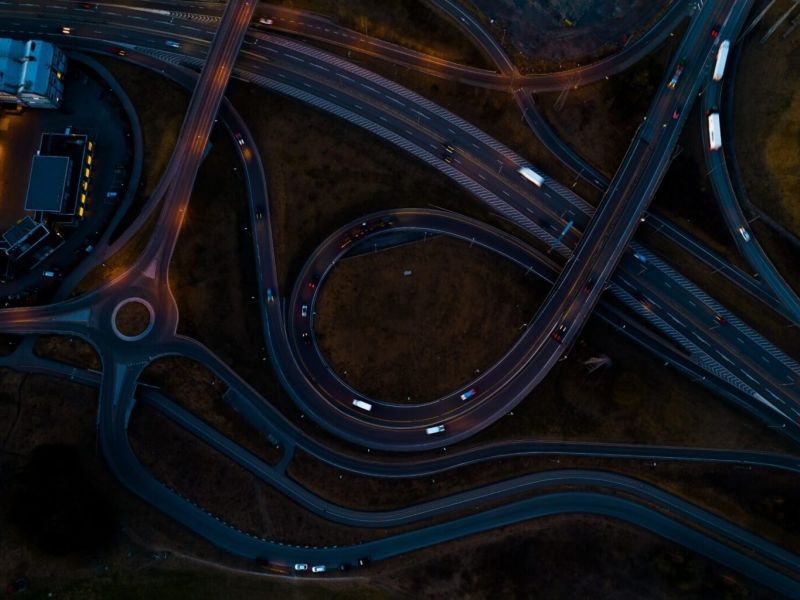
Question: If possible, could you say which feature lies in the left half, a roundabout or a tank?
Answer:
roundabout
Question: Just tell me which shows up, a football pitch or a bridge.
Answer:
bridge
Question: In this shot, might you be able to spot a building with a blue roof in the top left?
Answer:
Yes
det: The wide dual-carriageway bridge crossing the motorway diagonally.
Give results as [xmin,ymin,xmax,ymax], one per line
[529,75,676,377]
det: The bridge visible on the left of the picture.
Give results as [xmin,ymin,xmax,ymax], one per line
[174,0,260,157]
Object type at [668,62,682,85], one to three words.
vehicle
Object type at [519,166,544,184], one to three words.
vehicle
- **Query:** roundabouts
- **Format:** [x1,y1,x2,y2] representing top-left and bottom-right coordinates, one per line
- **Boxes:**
[49,233,201,425]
